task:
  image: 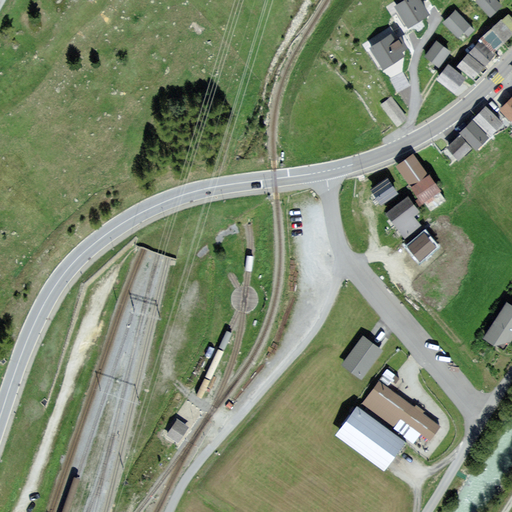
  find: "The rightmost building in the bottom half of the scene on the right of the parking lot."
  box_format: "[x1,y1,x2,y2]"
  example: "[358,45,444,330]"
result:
[484,302,512,353]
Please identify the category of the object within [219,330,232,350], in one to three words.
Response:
rail car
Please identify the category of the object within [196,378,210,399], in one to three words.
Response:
rail car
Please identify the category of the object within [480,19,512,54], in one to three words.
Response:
building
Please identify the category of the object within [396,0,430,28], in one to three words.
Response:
house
